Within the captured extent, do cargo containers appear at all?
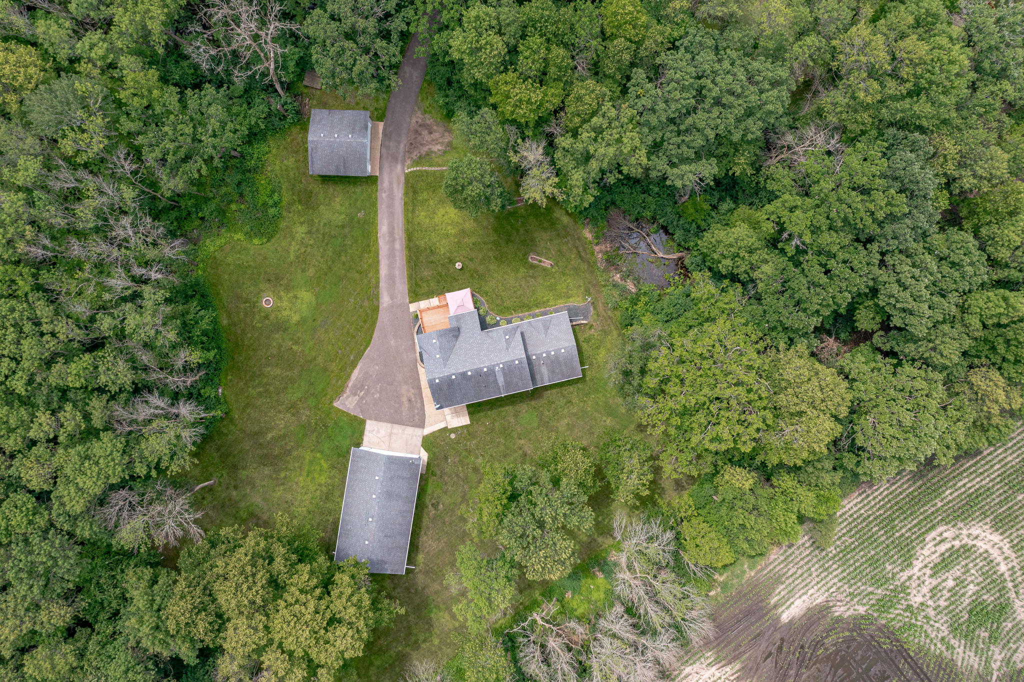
No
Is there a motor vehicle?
No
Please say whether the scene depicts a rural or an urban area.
rural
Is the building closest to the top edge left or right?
left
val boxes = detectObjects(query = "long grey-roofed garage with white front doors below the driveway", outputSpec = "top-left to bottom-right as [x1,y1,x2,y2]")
[334,447,423,575]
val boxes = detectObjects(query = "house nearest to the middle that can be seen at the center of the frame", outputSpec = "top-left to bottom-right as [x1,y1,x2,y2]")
[416,309,587,412]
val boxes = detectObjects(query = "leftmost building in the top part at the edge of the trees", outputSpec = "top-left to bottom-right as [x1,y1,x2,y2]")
[307,109,374,179]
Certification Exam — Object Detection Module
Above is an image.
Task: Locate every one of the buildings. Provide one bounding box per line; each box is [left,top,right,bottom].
[416,309,587,412]
[334,447,423,575]
[307,109,374,179]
